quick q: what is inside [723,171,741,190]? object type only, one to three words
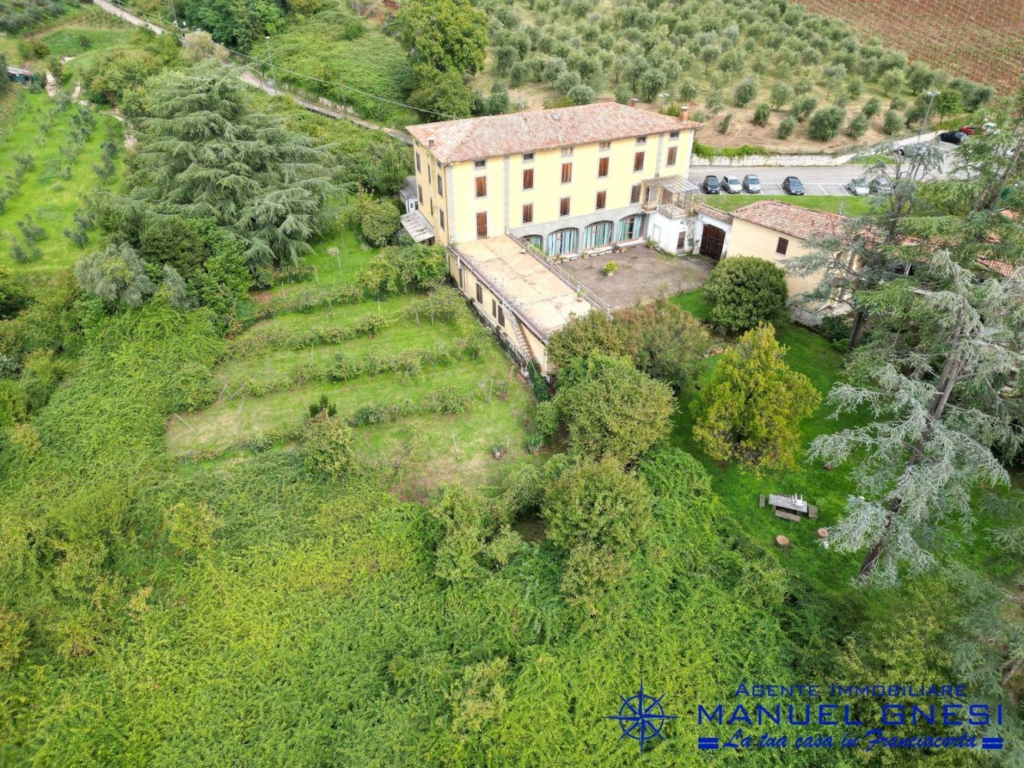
car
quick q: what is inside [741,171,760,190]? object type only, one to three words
car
